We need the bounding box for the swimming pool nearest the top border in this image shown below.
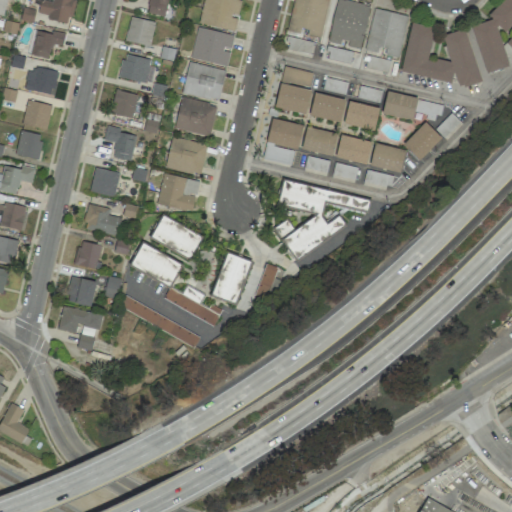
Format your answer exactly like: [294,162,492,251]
[20,26,33,44]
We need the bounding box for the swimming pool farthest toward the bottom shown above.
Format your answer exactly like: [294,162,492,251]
[382,124,404,140]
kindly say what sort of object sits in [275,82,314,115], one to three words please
building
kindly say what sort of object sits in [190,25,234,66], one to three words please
house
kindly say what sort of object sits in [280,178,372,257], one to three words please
building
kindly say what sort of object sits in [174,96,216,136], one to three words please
house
